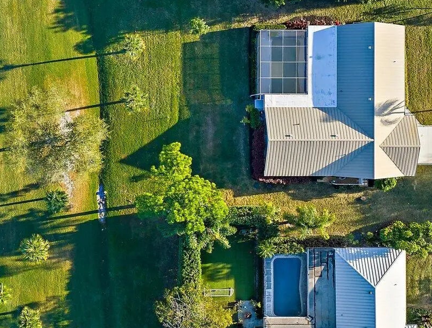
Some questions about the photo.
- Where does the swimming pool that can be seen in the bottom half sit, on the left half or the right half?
right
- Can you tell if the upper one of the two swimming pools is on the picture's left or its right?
right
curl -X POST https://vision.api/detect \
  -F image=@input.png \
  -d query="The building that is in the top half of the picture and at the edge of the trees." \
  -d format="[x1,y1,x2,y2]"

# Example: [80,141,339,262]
[262,22,422,180]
